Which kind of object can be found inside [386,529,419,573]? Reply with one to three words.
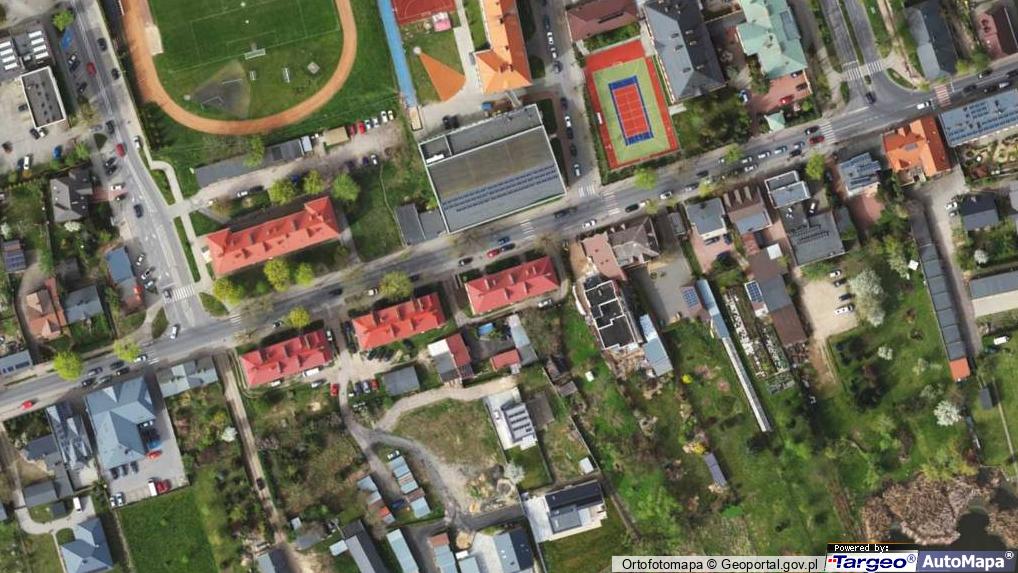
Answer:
barn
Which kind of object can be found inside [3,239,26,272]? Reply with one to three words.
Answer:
house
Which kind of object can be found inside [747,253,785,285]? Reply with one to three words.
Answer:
building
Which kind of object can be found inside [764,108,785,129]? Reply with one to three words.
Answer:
gazebo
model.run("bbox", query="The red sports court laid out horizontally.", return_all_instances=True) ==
[394,0,456,25]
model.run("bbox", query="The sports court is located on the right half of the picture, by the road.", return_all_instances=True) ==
[586,40,679,169]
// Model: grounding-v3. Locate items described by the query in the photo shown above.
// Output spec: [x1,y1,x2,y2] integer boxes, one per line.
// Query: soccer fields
[150,0,339,72]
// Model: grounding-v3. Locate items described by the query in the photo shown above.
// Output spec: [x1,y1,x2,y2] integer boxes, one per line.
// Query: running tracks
[122,0,358,135]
